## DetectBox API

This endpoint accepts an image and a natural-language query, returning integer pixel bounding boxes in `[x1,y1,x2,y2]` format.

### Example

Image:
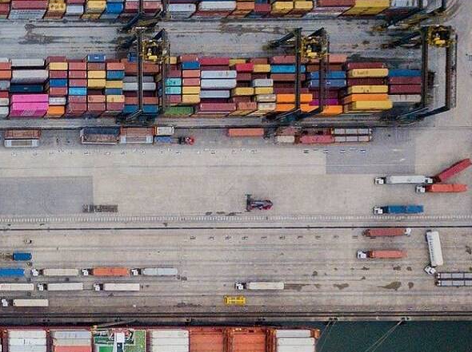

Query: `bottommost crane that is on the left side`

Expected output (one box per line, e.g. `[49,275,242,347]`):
[119,28,169,122]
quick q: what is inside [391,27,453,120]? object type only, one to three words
crane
